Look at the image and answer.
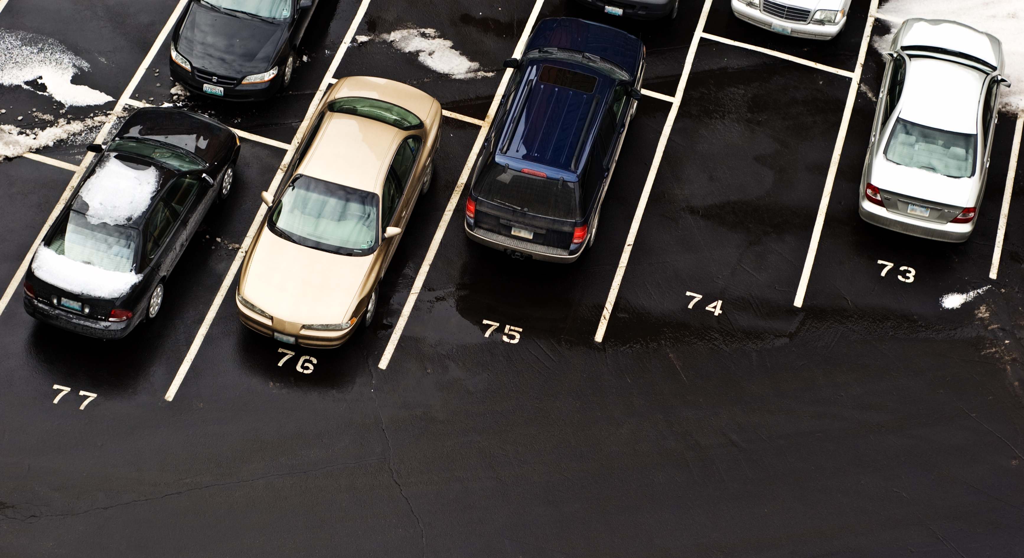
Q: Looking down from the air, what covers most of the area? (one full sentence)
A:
The bulk of the photo consists of paved ground.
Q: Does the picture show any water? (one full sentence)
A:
No, the scene doesn't show any water.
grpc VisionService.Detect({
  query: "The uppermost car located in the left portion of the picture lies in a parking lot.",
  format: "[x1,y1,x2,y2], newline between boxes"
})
[173,0,316,102]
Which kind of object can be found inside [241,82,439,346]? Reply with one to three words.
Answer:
car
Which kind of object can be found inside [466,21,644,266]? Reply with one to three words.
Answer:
car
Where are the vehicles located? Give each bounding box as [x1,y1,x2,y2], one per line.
[173,0,316,102]
[860,20,1013,243]
[26,103,237,337]
[241,82,439,346]
[466,21,644,266]
[577,0,679,23]
[731,0,849,40]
